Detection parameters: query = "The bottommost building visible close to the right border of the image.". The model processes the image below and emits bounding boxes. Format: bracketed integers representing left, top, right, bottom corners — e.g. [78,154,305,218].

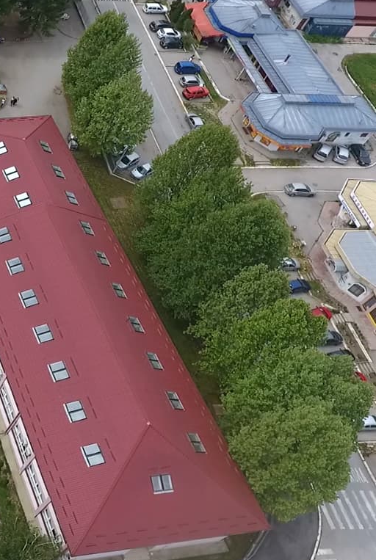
[318,228,376,317]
